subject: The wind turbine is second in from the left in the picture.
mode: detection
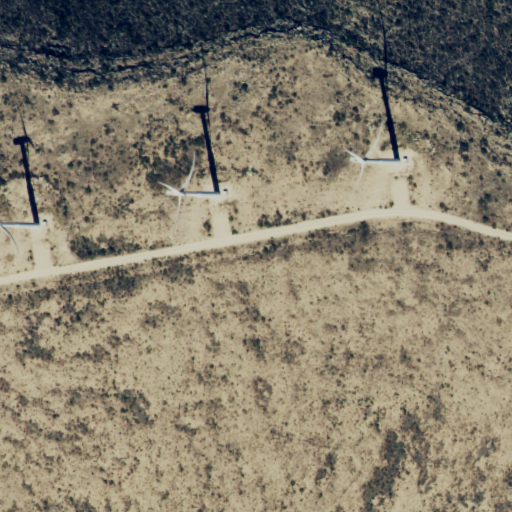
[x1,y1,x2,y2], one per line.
[152,154,221,236]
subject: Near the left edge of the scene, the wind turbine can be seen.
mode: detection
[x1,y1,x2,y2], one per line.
[0,220,41,250]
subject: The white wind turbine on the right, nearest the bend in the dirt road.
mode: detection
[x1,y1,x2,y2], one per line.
[340,124,402,202]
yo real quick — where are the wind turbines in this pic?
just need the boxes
[340,124,402,202]
[0,220,41,250]
[152,154,221,236]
